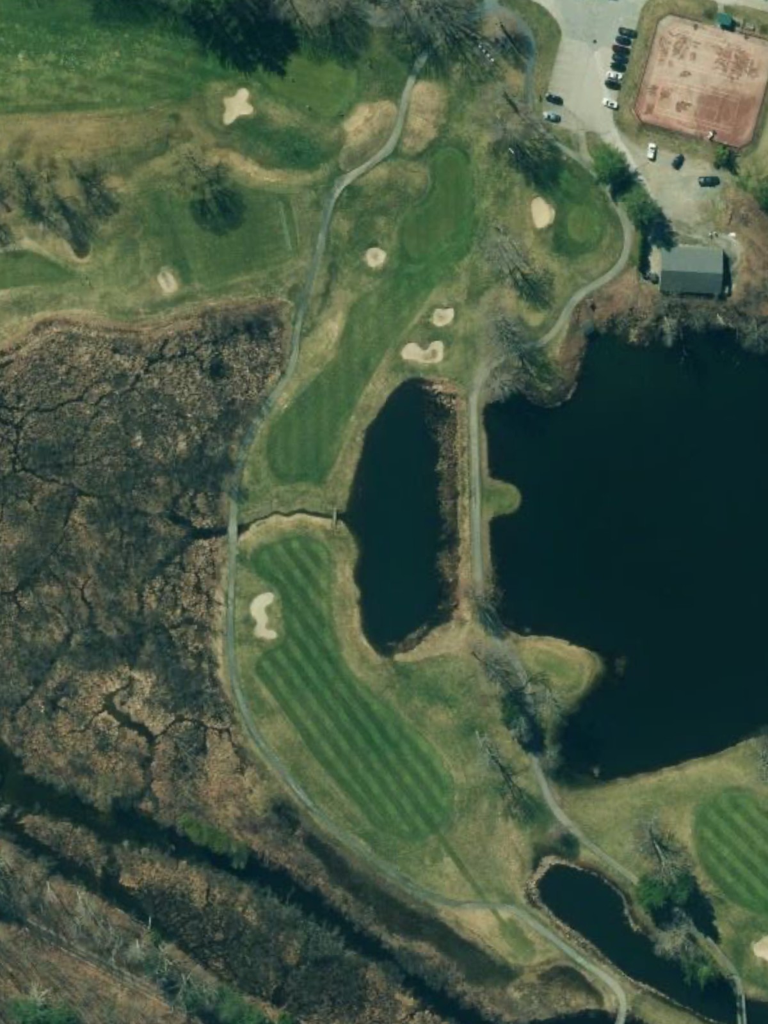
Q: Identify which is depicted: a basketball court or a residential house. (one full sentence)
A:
It is a residential house that can be seen here.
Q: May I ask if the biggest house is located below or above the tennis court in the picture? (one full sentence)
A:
The position of the biggest house is below the tennis court.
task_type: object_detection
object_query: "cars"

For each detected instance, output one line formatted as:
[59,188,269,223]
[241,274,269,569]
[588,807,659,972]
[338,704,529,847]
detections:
[673,153,683,168]
[605,79,621,88]
[613,53,629,62]
[619,27,637,37]
[700,177,719,185]
[544,112,560,121]
[612,44,630,54]
[606,71,623,80]
[615,36,632,45]
[649,142,656,159]
[546,94,563,104]
[602,98,618,107]
[610,61,627,70]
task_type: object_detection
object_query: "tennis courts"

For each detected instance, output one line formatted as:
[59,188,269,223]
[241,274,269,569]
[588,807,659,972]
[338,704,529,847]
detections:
[635,15,768,147]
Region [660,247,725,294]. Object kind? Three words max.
house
